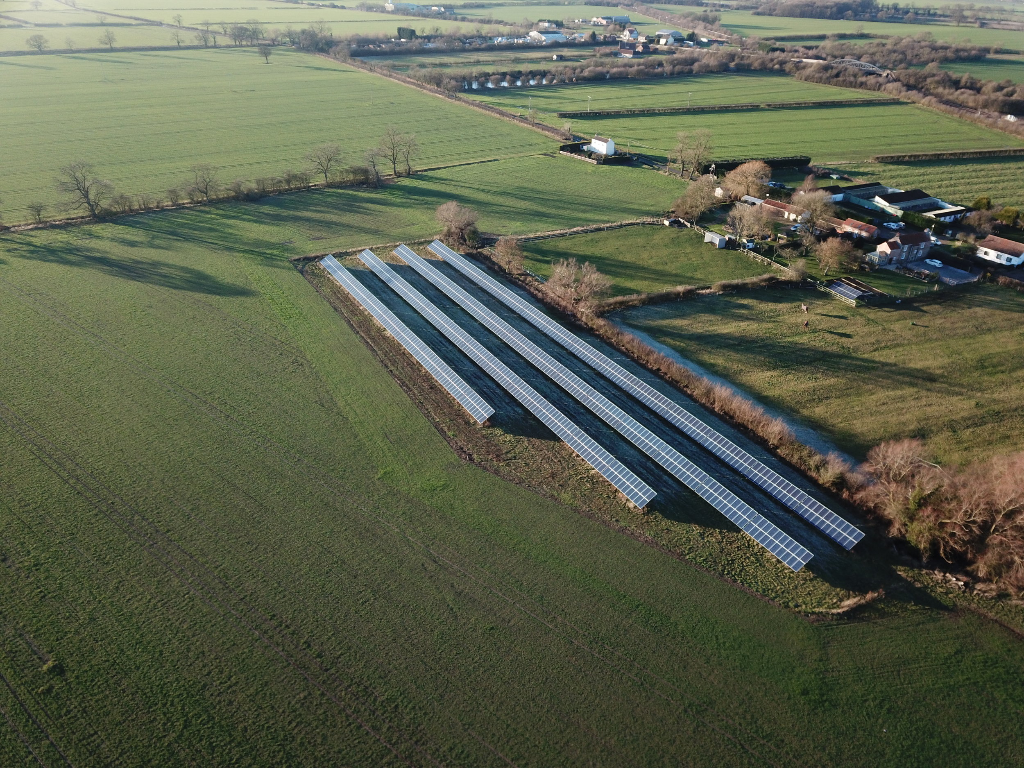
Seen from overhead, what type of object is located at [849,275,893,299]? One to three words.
shed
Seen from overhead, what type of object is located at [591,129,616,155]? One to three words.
house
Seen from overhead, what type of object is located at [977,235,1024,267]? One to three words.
house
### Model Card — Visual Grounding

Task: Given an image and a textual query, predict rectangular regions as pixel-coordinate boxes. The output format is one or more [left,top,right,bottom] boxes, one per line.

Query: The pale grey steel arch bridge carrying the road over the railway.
[817,56,883,78]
